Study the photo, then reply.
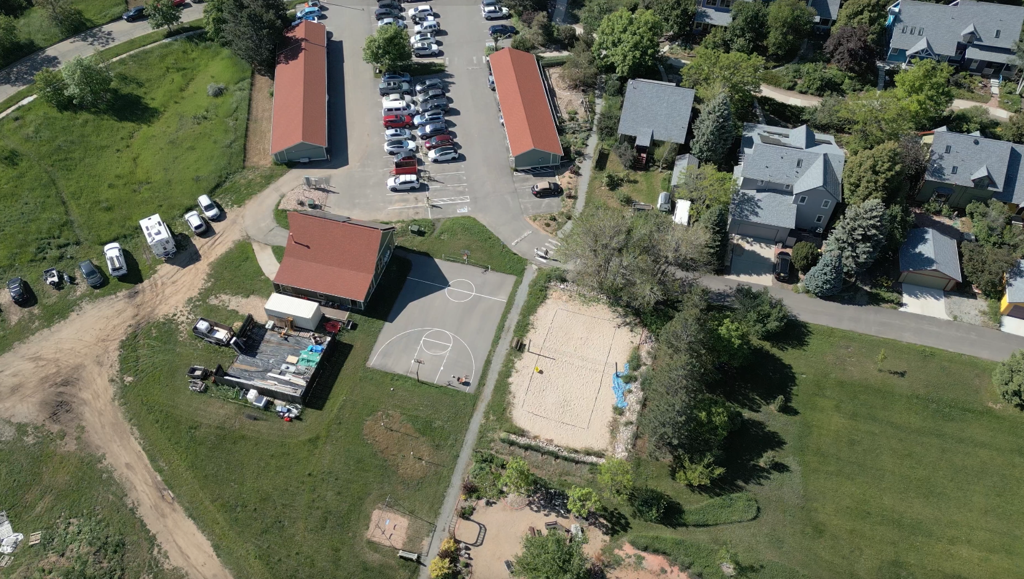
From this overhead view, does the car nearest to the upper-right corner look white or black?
black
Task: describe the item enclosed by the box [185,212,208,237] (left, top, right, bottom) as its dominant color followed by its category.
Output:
white car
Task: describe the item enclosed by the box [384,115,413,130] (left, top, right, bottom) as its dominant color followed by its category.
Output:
red car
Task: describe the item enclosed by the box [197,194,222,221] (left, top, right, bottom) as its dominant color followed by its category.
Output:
white car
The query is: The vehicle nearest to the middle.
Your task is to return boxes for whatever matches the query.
[531,183,562,200]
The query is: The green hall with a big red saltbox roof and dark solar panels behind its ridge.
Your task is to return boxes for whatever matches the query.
[271,209,398,324]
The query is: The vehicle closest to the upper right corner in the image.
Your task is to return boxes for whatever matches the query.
[772,252,793,284]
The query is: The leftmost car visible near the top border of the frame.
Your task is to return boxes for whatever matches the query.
[121,7,147,24]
